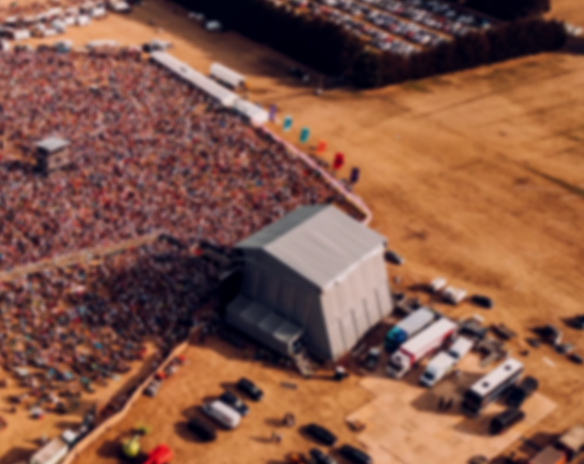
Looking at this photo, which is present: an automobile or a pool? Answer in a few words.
automobile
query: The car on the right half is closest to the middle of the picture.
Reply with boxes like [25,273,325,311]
[388,249,405,267]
